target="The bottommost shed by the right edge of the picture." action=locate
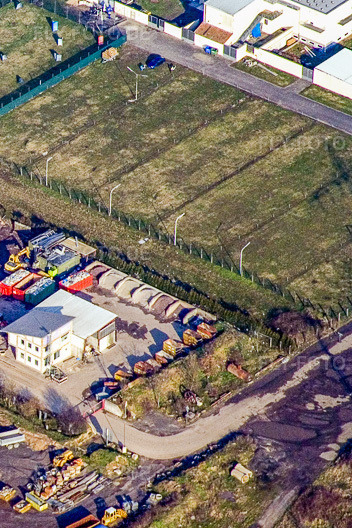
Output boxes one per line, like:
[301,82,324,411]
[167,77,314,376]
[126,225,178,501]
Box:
[314,47,352,99]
